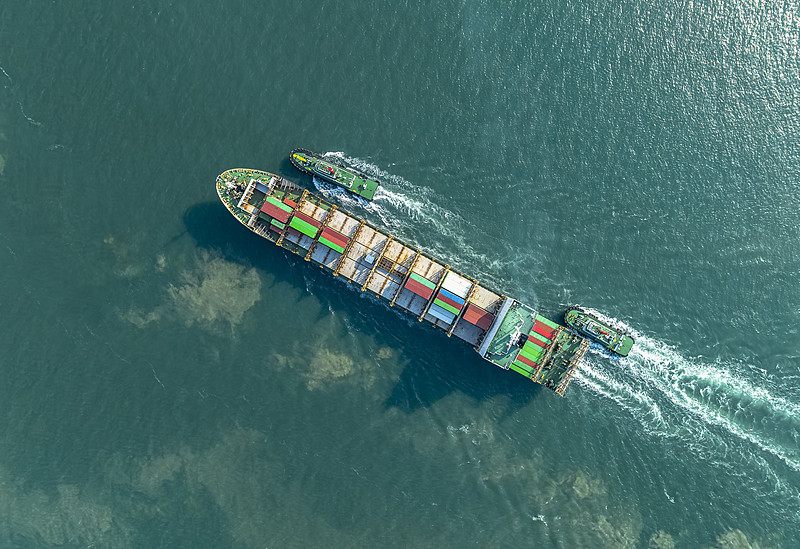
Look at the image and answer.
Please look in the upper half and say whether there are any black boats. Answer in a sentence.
No, in the upper half there is no black boat.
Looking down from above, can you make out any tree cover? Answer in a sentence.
No, tree cover can't be seen anywhere here.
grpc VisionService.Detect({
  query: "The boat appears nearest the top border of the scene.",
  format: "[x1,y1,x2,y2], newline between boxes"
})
[289,149,380,201]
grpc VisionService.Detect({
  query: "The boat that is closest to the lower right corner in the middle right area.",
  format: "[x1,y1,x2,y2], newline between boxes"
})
[565,309,634,356]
